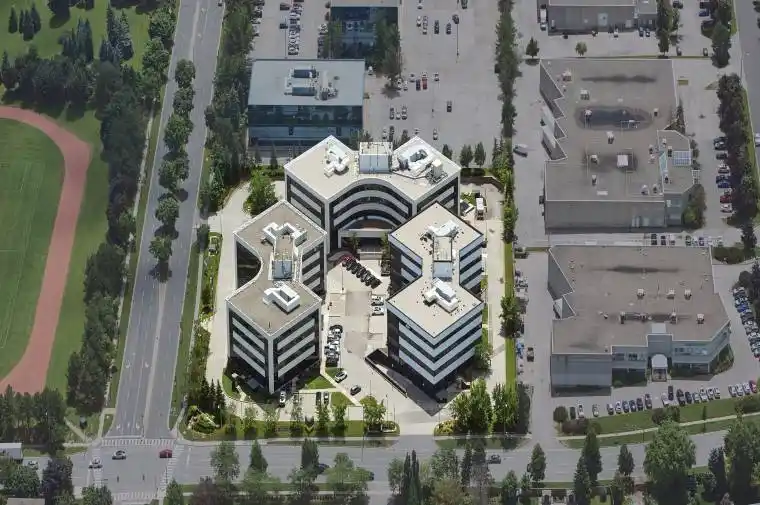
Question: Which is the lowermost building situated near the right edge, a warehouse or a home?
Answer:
warehouse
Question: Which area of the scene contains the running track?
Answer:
left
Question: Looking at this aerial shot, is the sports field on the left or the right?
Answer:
left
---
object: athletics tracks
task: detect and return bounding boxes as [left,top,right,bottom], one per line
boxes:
[0,105,91,397]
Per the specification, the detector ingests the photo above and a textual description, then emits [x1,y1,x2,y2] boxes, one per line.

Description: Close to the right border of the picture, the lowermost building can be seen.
[547,245,730,385]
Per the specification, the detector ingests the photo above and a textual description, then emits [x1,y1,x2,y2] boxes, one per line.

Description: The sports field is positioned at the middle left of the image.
[0,119,65,379]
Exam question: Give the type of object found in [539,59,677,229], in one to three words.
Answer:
warehouse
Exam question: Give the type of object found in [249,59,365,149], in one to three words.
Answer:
building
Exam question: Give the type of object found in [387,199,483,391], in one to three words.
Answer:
building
